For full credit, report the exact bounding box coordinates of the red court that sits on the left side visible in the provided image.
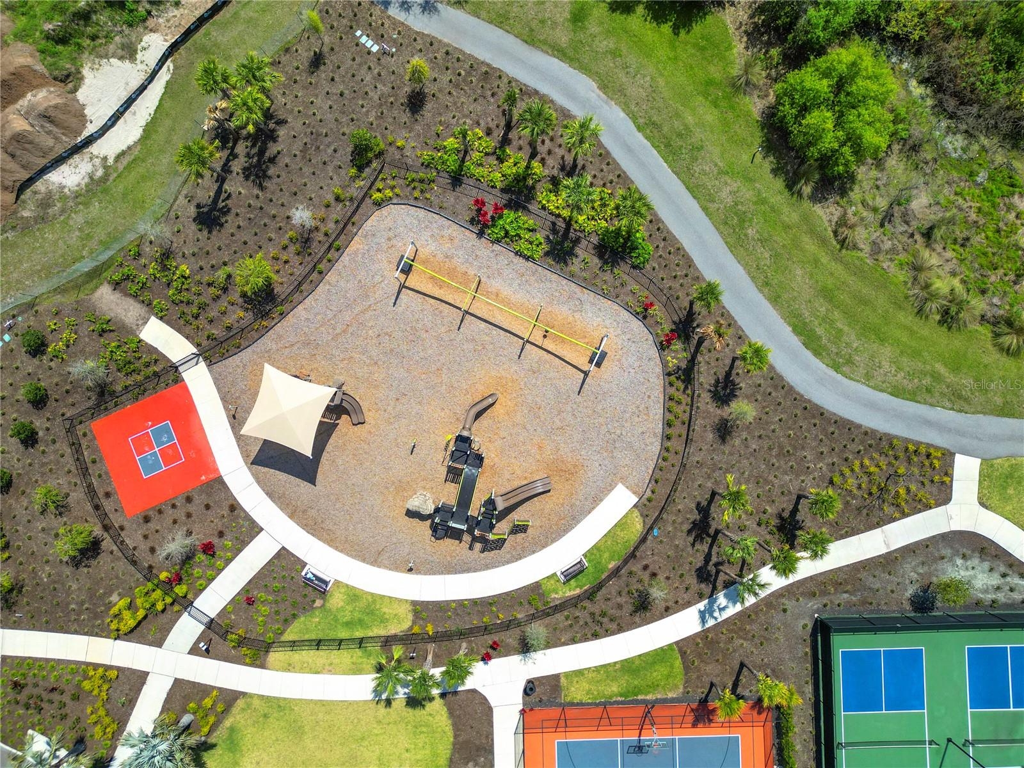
[91,382,221,518]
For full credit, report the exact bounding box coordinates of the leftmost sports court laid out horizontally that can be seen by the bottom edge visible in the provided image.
[524,704,770,768]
